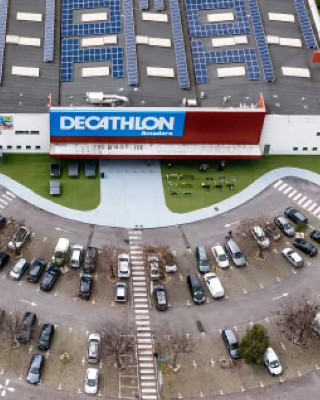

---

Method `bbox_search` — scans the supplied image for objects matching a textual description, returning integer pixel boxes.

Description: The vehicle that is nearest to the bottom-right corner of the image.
[261,349,283,376]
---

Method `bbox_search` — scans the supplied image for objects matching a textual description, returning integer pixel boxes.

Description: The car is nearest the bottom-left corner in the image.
[26,353,46,387]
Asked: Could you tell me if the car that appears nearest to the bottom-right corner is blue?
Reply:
No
